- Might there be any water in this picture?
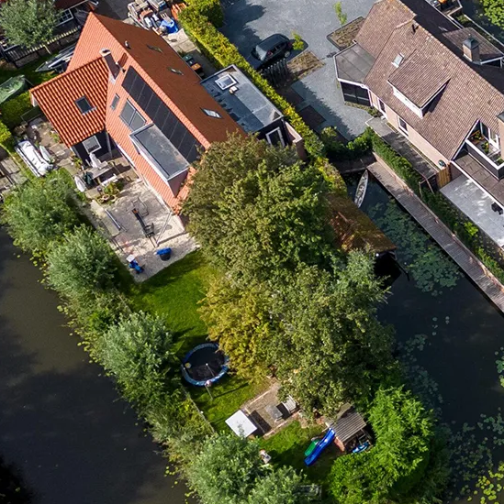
Yes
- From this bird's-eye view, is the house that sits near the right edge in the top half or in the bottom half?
top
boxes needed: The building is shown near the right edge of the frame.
[333,0,504,229]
